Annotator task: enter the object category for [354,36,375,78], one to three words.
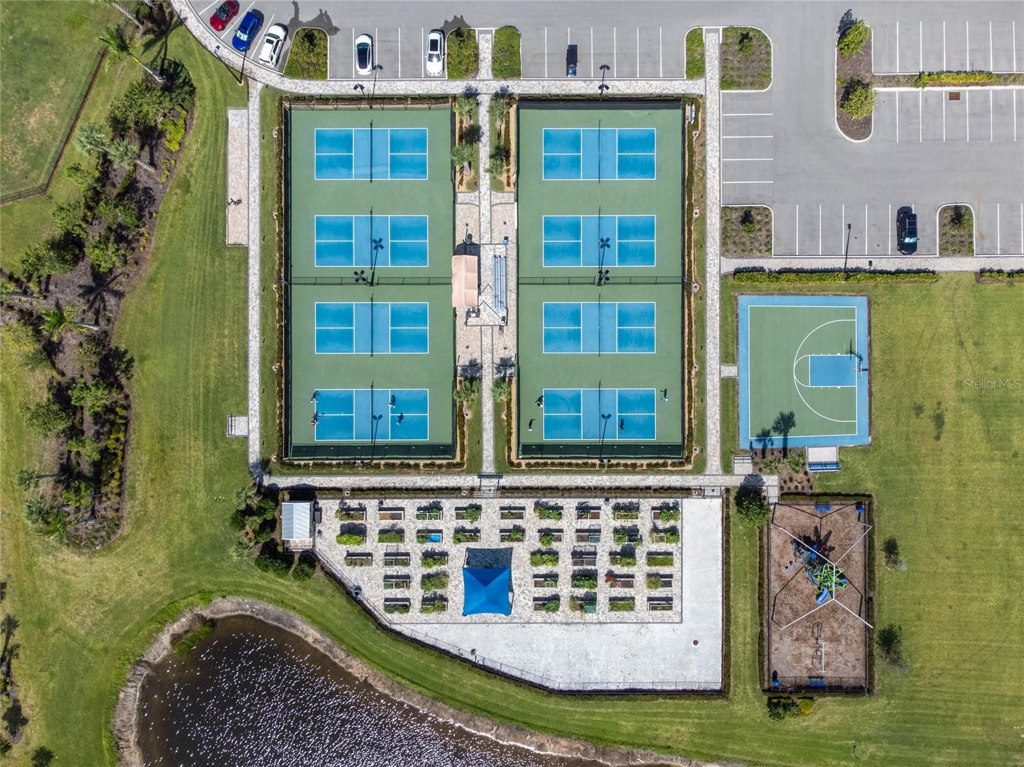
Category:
car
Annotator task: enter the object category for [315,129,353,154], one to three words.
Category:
sports court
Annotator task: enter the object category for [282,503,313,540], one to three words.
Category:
shed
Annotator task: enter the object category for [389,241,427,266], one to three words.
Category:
sports court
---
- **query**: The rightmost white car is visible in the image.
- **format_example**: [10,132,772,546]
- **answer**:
[426,34,446,78]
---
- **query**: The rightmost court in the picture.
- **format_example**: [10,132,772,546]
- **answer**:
[739,295,871,449]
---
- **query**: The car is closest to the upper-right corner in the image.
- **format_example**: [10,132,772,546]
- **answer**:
[897,211,921,254]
